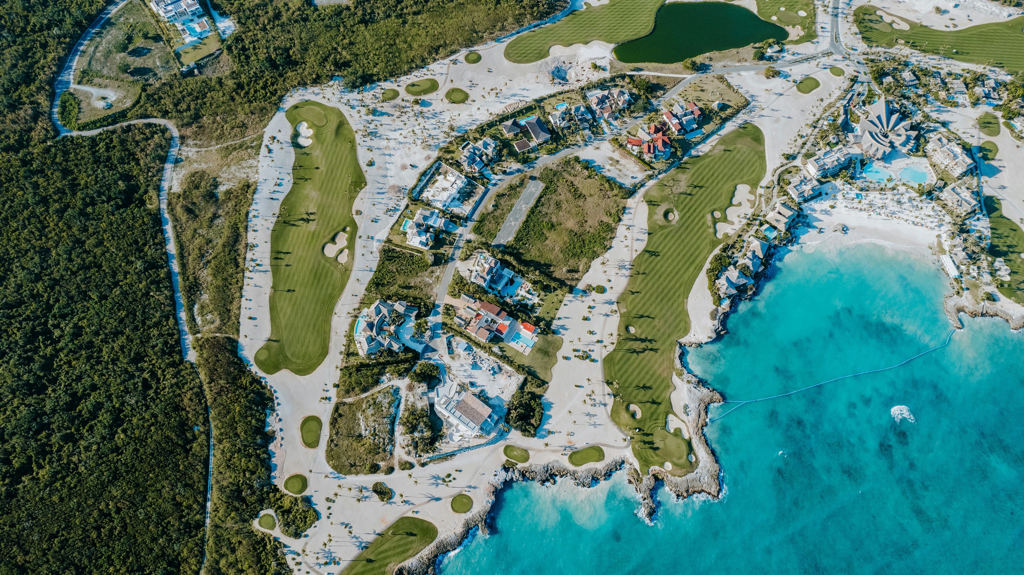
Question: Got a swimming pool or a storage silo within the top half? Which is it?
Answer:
swimming pool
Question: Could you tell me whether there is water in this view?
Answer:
Yes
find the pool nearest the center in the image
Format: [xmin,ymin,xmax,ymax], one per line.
[501,280,524,297]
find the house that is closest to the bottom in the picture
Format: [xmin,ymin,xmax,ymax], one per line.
[436,382,498,442]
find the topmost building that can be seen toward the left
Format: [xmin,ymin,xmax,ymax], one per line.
[150,0,211,52]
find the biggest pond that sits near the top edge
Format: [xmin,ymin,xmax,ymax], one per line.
[614,2,787,63]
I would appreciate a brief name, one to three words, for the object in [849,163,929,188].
swimming pool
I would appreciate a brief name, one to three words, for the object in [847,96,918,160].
building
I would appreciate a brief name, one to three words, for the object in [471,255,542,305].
house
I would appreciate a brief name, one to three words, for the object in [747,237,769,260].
house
